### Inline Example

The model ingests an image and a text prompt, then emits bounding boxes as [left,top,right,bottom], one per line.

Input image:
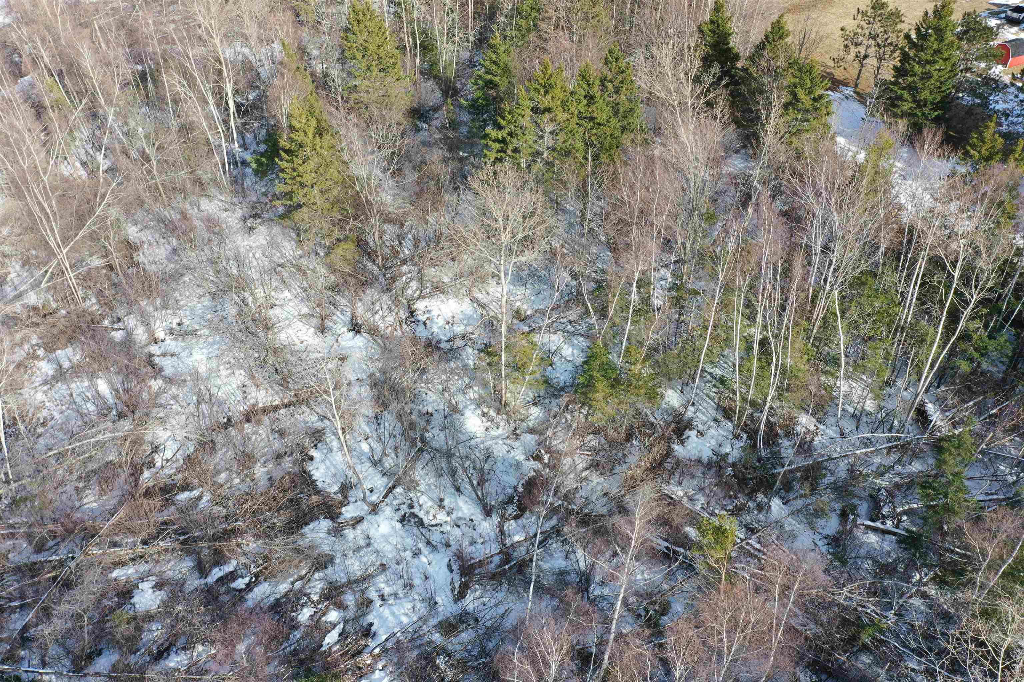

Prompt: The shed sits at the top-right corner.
[983,31,1024,67]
